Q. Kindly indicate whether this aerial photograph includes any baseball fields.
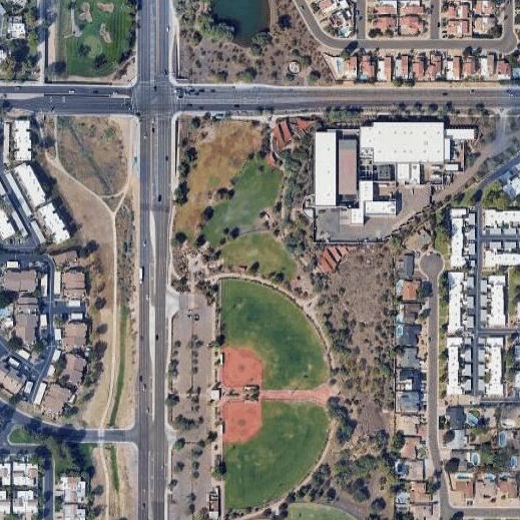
Yes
